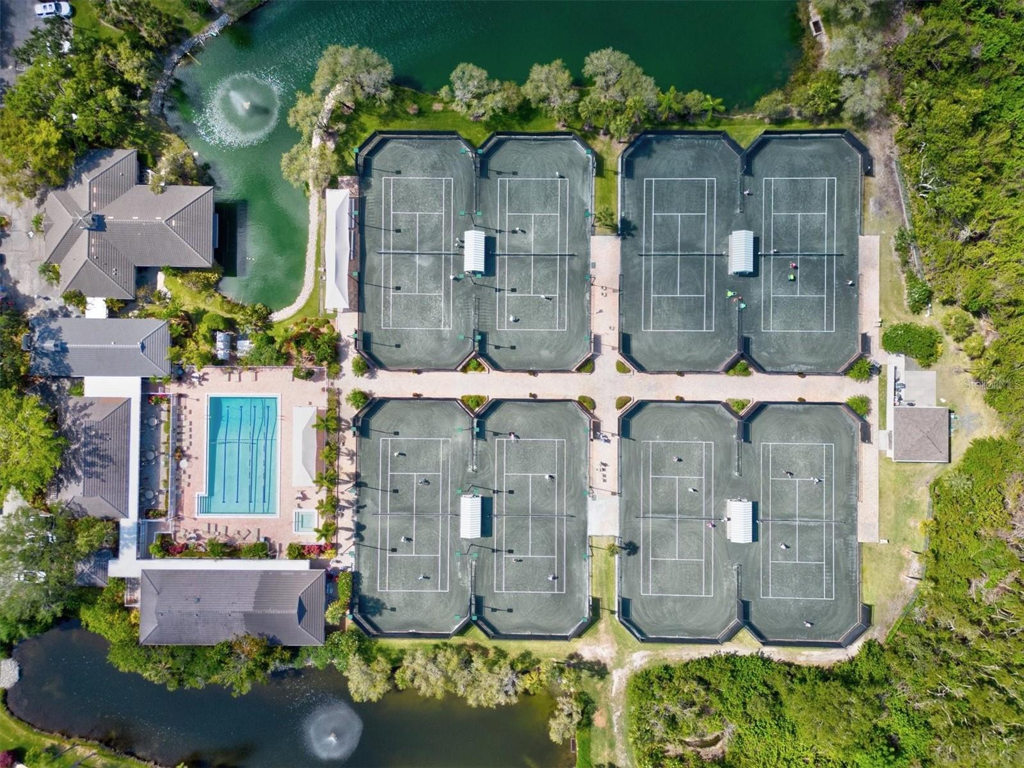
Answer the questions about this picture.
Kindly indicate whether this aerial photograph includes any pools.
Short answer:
Yes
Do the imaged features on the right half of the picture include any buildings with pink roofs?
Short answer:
No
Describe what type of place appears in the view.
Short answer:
sports ground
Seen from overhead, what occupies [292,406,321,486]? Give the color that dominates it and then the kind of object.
white tent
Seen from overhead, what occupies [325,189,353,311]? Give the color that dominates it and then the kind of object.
white tent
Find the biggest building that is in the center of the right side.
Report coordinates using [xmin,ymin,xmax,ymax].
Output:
[888,406,951,463]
